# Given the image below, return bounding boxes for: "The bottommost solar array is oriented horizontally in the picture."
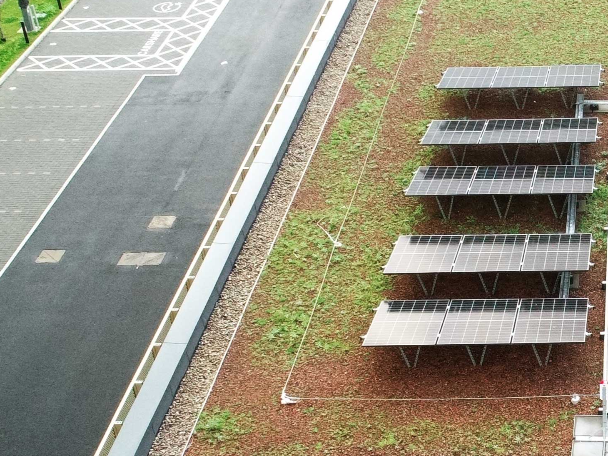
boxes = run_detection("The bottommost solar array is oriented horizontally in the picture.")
[358,301,593,364]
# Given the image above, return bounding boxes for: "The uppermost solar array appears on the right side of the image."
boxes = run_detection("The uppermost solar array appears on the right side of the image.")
[433,69,604,109]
